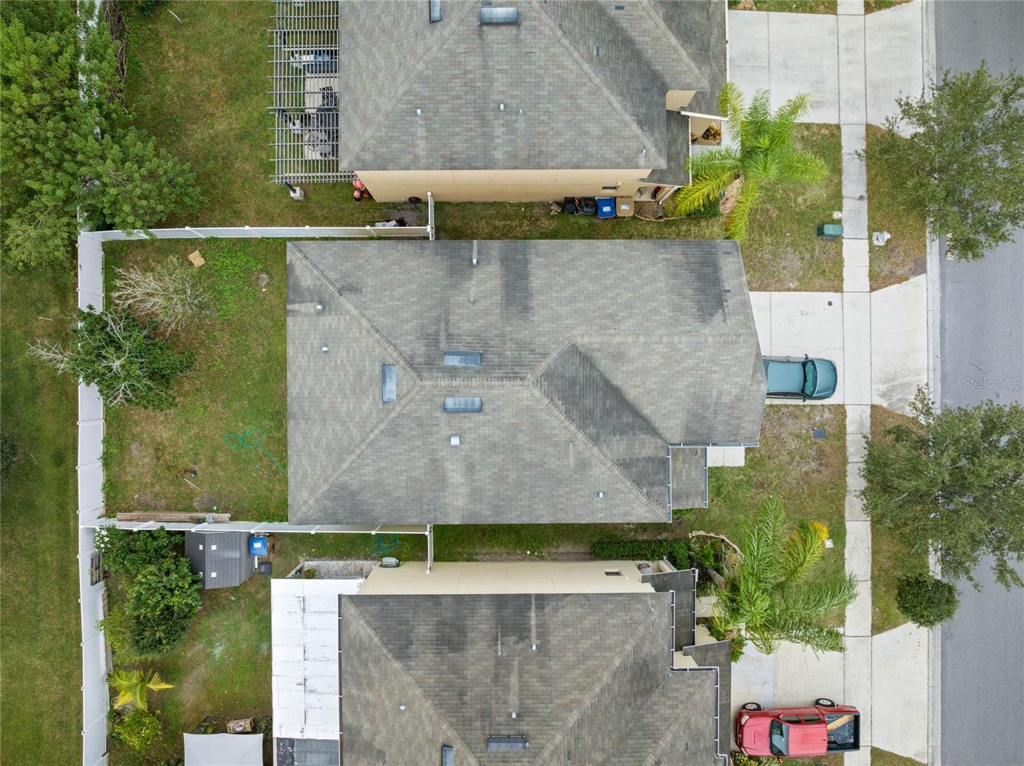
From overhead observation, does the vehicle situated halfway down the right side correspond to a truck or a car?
car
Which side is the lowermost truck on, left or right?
right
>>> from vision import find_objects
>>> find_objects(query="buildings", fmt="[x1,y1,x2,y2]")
[339,561,731,766]
[184,531,254,596]
[286,238,767,526]
[337,0,731,206]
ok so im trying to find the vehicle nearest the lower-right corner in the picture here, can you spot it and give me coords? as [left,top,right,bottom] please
[732,698,860,762]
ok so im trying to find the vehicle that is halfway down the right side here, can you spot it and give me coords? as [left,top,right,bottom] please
[762,351,836,405]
